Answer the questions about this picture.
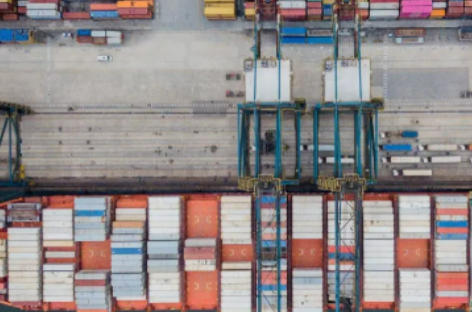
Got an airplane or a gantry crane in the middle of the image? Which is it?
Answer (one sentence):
You can see a gantry crane in the middle of the image.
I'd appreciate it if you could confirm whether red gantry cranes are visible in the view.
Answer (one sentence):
No, there is no red gantry crane in the image.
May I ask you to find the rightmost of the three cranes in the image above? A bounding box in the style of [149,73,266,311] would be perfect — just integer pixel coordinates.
[308,0,385,312]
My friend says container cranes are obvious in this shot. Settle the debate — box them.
[308,0,385,312]
[0,97,44,187]
[235,0,312,312]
